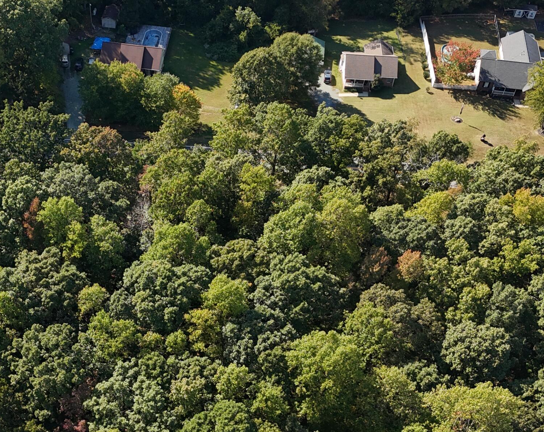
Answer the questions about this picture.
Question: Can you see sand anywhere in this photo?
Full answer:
No, sand can't be seen anywhere here.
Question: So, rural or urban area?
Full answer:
From above, the setting appears rural.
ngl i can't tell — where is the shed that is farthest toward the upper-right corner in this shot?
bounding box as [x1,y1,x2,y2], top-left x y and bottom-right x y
[503,4,538,19]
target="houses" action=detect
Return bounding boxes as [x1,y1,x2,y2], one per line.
[337,43,398,93]
[97,40,169,79]
[473,30,544,104]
